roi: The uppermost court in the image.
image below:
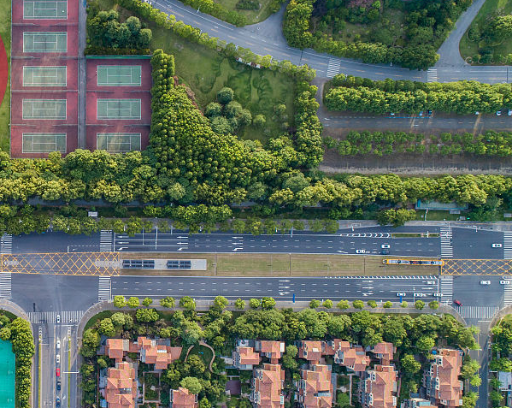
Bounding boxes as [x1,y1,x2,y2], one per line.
[22,0,66,19]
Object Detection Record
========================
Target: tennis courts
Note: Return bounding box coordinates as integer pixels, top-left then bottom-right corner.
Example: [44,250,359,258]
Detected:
[22,32,66,52]
[97,99,141,119]
[22,99,66,119]
[97,132,141,152]
[22,132,66,152]
[22,66,66,86]
[22,0,66,19]
[97,65,141,85]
